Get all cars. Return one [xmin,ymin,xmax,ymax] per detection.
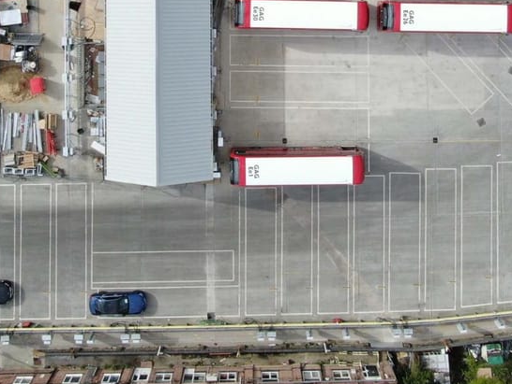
[0,280,13,305]
[90,289,146,318]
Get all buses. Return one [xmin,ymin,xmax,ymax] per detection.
[375,0,512,36]
[234,0,368,32]
[231,144,364,184]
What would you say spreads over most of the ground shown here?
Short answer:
paved ground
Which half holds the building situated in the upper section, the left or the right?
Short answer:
left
